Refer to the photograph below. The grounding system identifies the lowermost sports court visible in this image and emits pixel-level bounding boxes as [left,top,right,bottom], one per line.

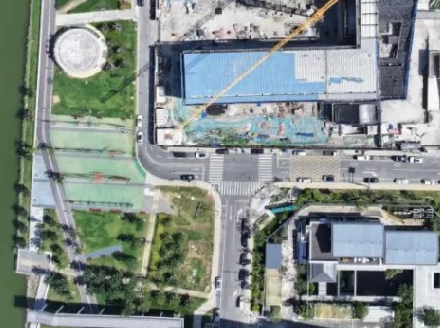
[65,186,145,211]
